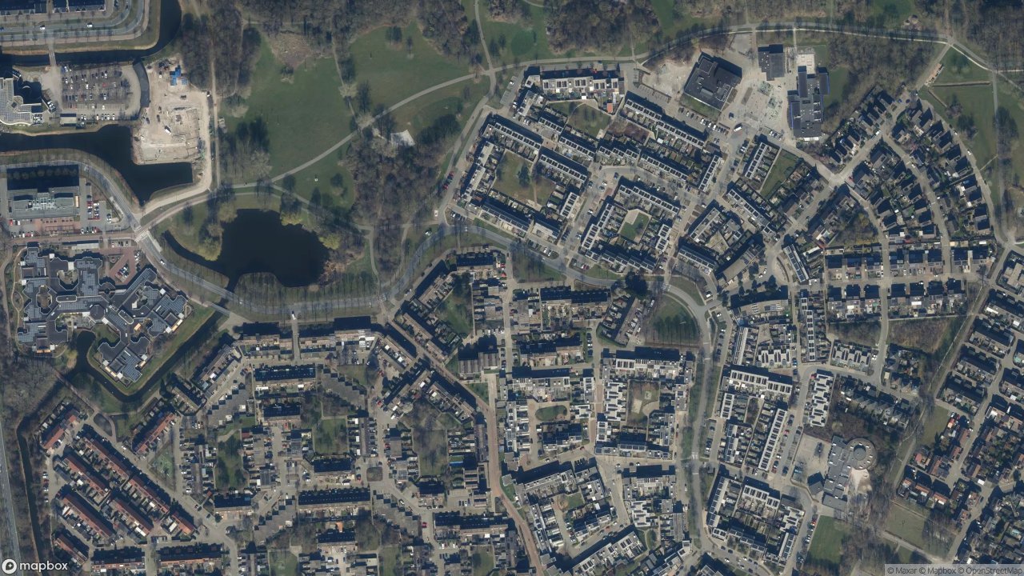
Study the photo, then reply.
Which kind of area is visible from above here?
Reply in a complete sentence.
This image shows a residential area.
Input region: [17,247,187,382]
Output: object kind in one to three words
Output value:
house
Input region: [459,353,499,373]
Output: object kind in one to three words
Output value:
building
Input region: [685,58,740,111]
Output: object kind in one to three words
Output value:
building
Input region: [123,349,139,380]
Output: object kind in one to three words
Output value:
solar array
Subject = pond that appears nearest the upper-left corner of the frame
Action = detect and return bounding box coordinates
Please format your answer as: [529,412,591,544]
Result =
[164,209,329,291]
